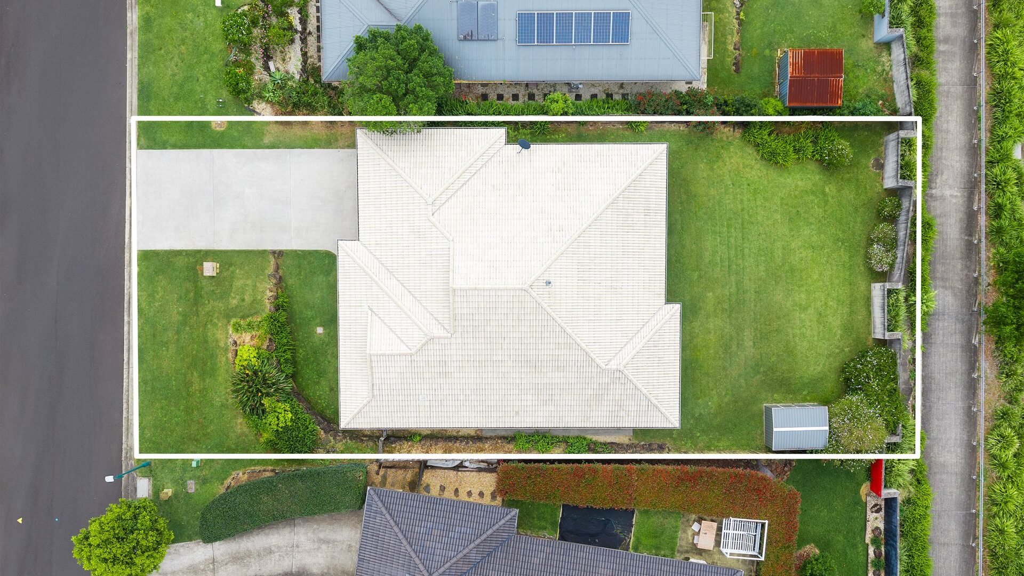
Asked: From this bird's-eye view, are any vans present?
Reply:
No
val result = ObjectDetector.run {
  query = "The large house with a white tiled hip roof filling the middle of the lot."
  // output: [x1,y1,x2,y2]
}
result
[337,127,682,430]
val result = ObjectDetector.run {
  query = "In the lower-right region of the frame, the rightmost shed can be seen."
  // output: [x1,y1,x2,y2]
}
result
[765,403,831,451]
